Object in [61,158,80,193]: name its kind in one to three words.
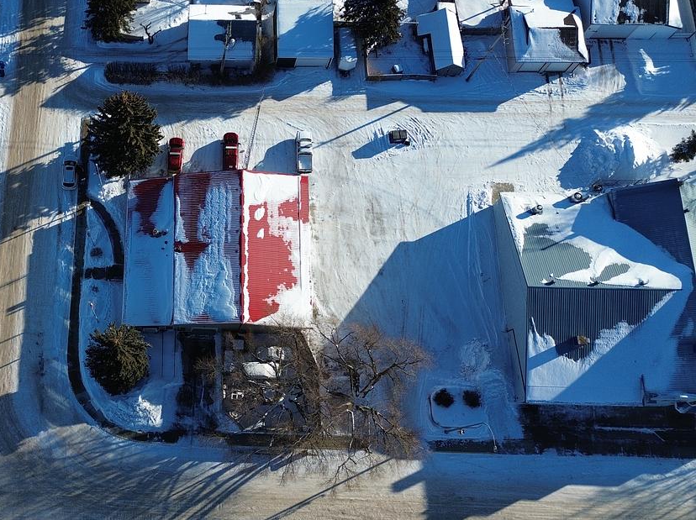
car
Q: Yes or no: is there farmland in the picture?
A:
No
